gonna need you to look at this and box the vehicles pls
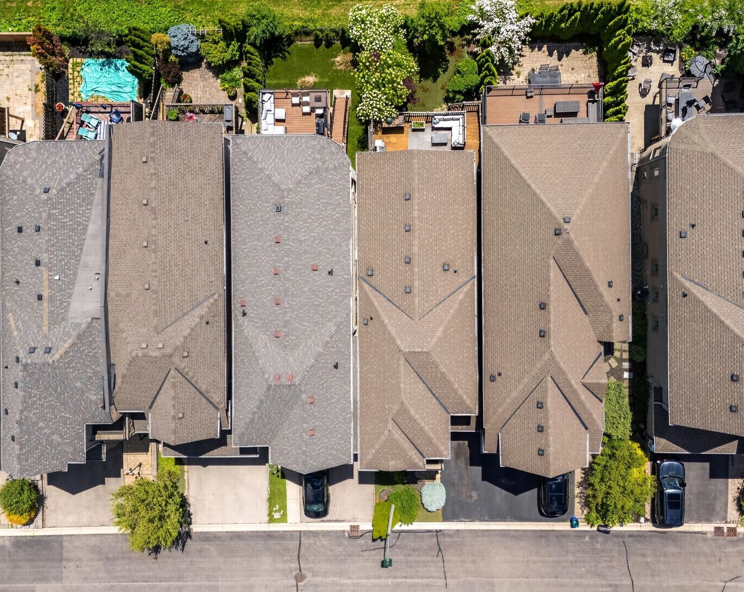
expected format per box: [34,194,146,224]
[653,454,688,525]
[301,469,332,518]
[539,473,568,515]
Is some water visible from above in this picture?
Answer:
No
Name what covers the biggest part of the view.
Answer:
buildings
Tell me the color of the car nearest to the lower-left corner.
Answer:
black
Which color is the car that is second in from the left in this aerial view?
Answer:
black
